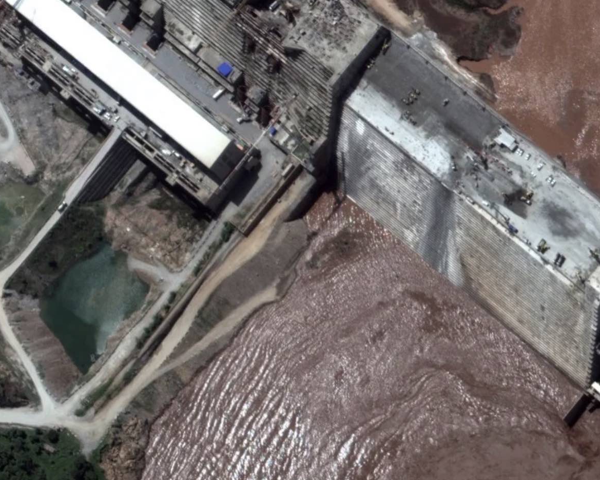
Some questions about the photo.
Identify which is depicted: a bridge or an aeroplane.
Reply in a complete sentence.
Visible in the photo is a bridge.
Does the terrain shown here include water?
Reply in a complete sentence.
Yes, water shows up in the scene.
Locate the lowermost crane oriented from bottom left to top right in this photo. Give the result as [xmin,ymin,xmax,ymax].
[217,93,303,192]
